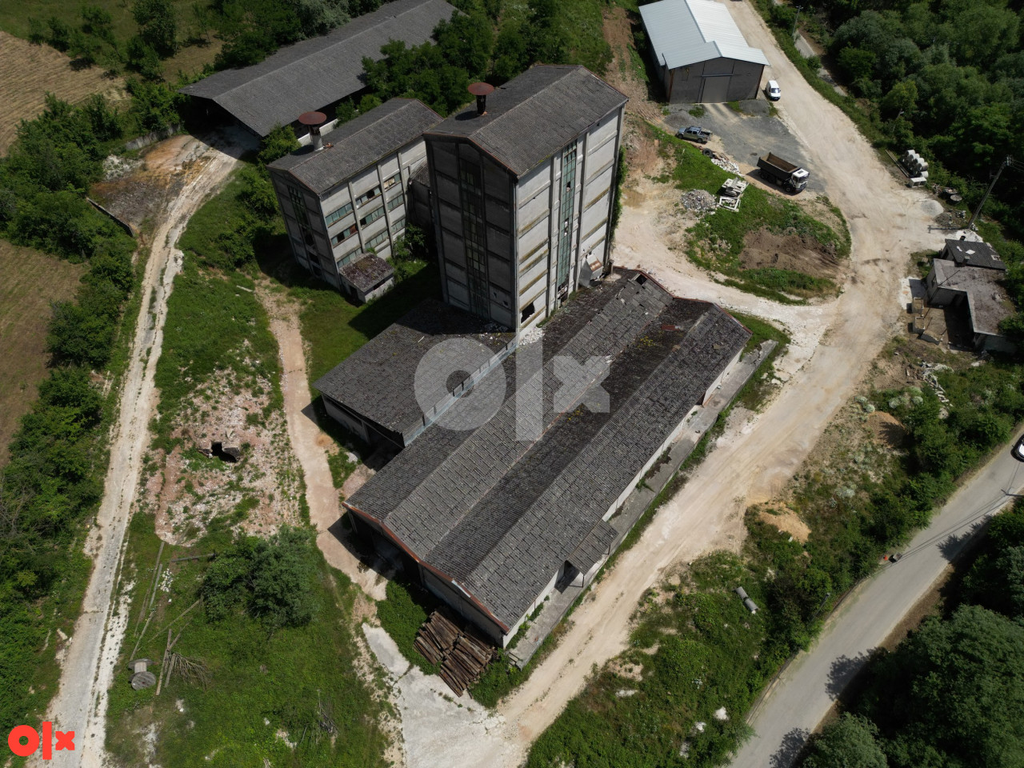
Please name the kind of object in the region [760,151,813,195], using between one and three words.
truck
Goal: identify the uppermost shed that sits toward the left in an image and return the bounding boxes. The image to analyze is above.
[176,0,484,159]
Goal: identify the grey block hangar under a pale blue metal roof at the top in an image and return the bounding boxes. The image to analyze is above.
[640,0,771,101]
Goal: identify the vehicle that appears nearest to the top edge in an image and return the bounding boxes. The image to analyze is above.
[766,80,782,98]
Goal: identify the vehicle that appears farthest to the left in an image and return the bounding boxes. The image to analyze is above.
[678,126,710,142]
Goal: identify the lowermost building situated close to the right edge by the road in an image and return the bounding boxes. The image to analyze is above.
[925,258,1024,352]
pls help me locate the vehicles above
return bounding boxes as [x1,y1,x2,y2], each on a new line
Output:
[1016,435,1024,458]
[760,151,813,195]
[766,80,782,98]
[678,126,710,142]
